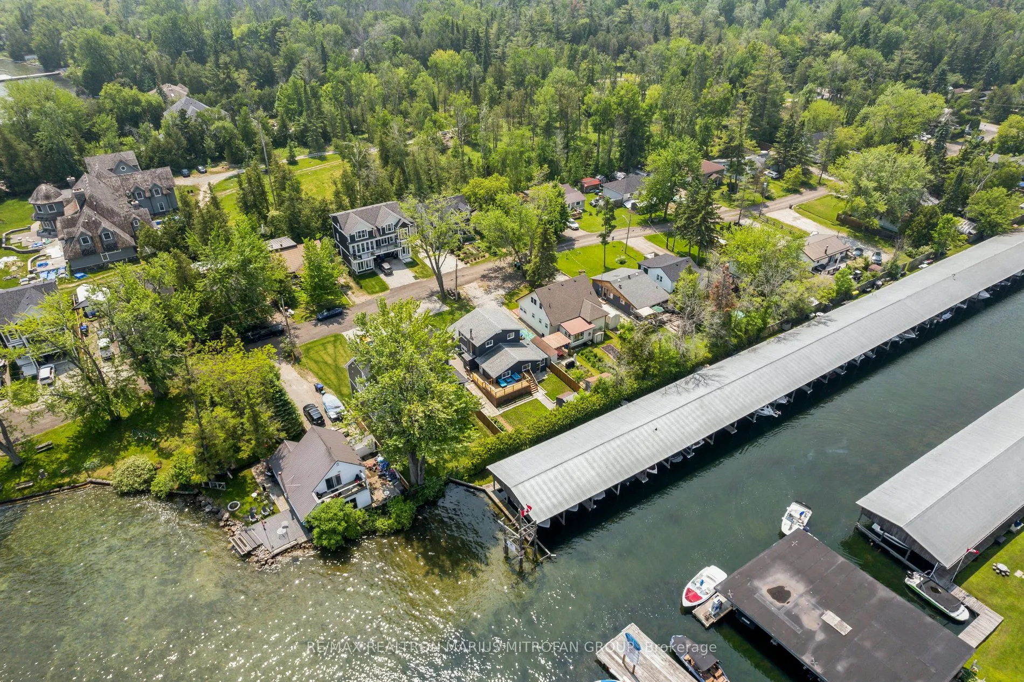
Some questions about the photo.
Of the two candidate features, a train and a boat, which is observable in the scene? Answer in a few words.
boat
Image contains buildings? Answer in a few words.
Yes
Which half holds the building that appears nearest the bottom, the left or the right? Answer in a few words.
right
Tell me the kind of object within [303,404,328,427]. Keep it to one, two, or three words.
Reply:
car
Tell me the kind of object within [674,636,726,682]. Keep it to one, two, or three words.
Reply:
boat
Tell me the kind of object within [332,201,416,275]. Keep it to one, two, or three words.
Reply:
house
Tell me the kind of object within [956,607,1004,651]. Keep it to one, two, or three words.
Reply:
pier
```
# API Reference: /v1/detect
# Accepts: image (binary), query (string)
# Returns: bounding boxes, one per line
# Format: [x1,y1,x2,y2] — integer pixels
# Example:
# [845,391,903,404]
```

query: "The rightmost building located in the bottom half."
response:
[843,387,1024,585]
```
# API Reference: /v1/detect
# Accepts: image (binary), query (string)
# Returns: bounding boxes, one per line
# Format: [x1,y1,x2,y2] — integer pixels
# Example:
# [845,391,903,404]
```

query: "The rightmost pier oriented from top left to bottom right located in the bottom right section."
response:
[934,579,986,616]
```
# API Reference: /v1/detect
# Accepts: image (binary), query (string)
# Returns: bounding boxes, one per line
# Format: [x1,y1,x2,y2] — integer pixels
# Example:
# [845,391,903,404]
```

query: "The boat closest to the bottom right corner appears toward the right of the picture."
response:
[902,569,969,626]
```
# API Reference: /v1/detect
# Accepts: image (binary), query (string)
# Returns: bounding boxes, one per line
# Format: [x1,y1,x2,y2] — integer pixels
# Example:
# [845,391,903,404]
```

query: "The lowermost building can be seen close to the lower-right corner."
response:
[711,527,972,682]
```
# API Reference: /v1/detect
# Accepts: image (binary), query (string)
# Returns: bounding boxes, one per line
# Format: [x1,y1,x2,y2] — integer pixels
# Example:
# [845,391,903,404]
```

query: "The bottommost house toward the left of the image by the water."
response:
[268,424,372,523]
